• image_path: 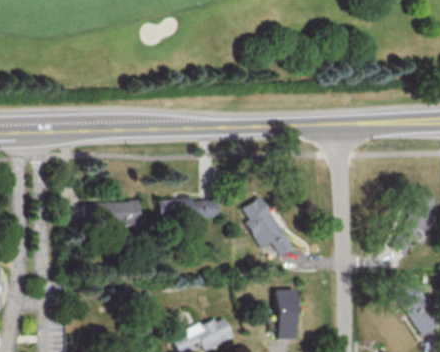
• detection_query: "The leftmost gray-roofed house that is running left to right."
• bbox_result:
[83,200,144,228]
